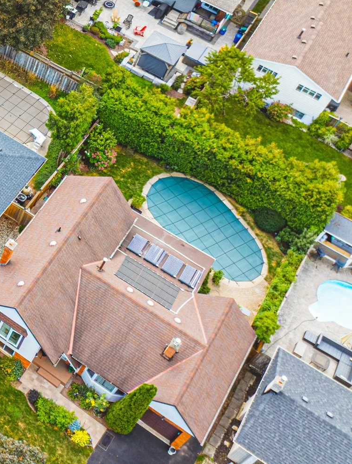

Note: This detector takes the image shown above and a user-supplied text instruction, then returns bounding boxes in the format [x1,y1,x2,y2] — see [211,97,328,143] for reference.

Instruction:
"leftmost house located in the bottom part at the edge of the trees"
[0,175,257,453]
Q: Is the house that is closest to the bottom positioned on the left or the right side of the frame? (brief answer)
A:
right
